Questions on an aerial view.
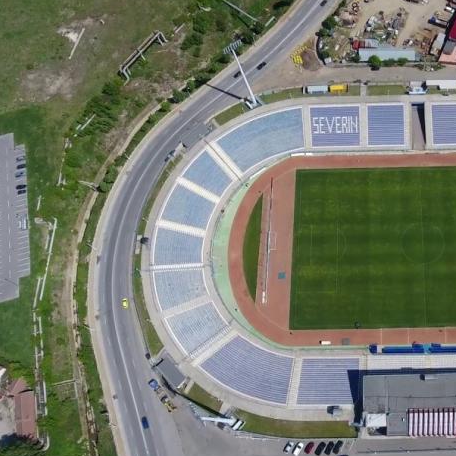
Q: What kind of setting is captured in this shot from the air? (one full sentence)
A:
This looks like a sports ground.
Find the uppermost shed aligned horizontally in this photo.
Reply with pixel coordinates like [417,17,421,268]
[359,48,415,65]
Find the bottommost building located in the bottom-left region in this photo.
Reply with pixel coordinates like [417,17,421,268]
[14,395,44,438]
